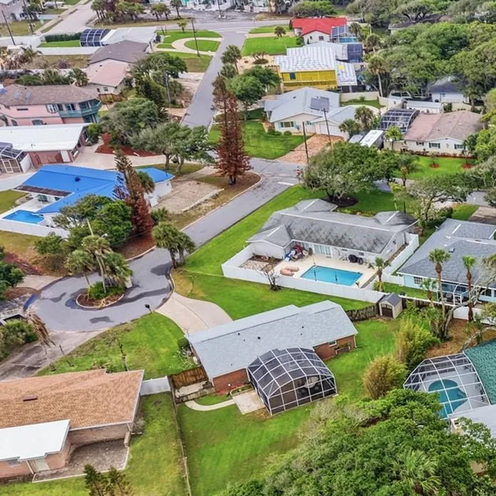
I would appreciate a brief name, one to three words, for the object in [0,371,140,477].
house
